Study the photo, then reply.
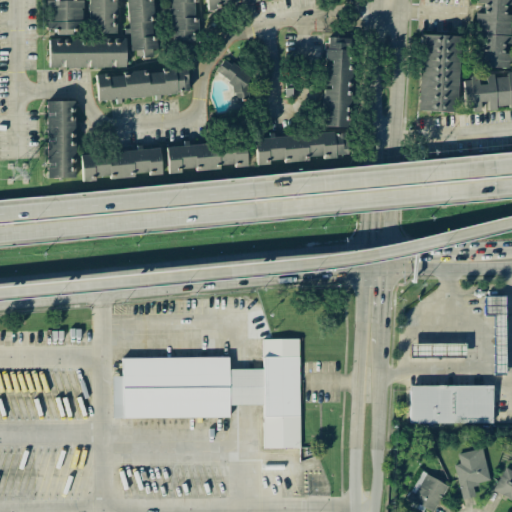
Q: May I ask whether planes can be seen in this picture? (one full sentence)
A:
No, there appears to be no plane in this shot.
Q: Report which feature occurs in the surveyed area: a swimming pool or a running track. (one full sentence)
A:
Visible in the photo is a swimming pool.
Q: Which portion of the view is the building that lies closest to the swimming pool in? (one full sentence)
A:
The building that lies closest to the swimming pool appears toward the top of the photo.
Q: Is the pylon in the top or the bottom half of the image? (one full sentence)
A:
The top half of the photo is where the pylon is.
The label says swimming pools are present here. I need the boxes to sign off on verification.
[210,73,236,114]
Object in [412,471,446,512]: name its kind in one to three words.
house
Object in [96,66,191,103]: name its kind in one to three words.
building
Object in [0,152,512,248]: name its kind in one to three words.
bridge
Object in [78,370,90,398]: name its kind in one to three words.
vehicle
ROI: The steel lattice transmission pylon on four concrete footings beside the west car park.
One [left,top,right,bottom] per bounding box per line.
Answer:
[8,163,33,184]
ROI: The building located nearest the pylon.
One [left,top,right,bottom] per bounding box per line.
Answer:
[47,101,77,179]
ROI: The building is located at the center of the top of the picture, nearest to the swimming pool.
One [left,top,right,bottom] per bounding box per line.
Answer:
[218,59,250,98]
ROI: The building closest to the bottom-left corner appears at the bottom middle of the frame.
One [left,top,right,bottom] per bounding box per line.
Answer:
[112,339,310,462]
